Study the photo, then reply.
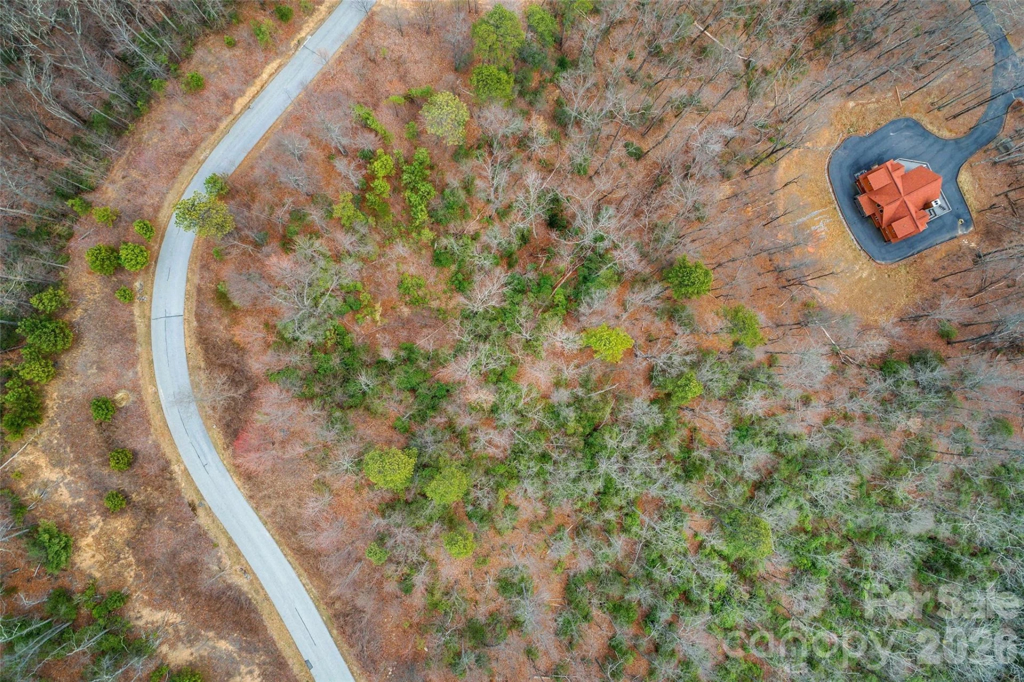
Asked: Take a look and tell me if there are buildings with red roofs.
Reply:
Yes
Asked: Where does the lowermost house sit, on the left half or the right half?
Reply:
right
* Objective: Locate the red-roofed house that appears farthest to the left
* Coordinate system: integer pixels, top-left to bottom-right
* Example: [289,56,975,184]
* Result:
[845,159,942,243]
